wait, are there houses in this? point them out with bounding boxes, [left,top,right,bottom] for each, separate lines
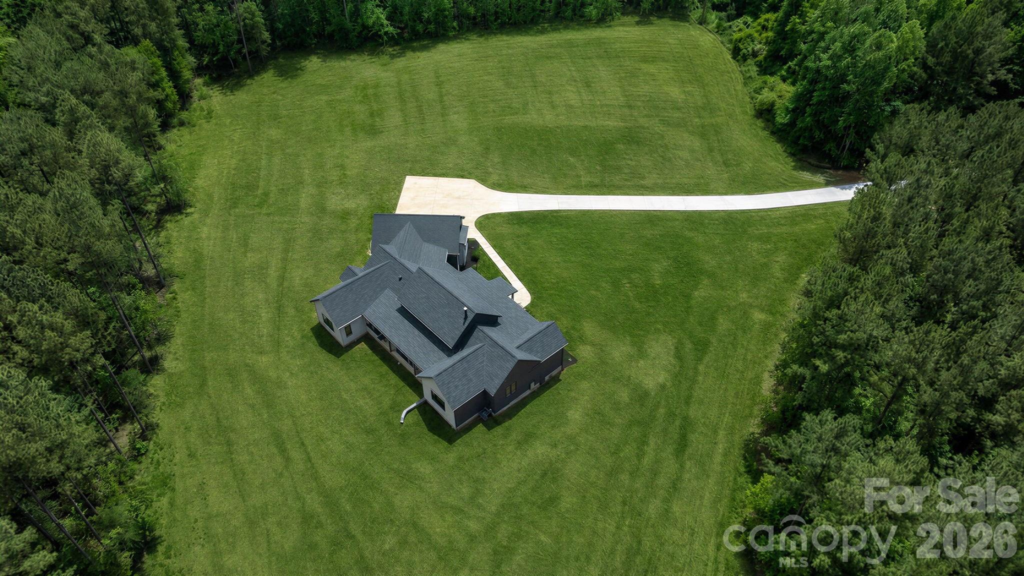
[310,213,569,430]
